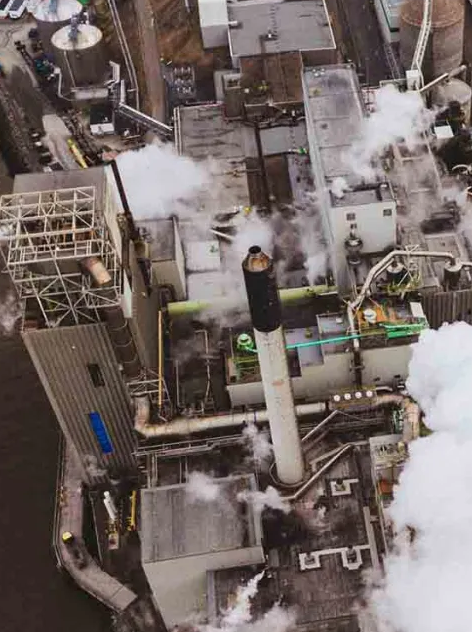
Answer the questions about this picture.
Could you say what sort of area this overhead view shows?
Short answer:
industrial area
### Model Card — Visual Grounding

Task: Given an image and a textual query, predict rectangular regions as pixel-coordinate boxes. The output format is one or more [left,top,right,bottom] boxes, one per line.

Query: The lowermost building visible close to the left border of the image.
[2,163,179,475]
